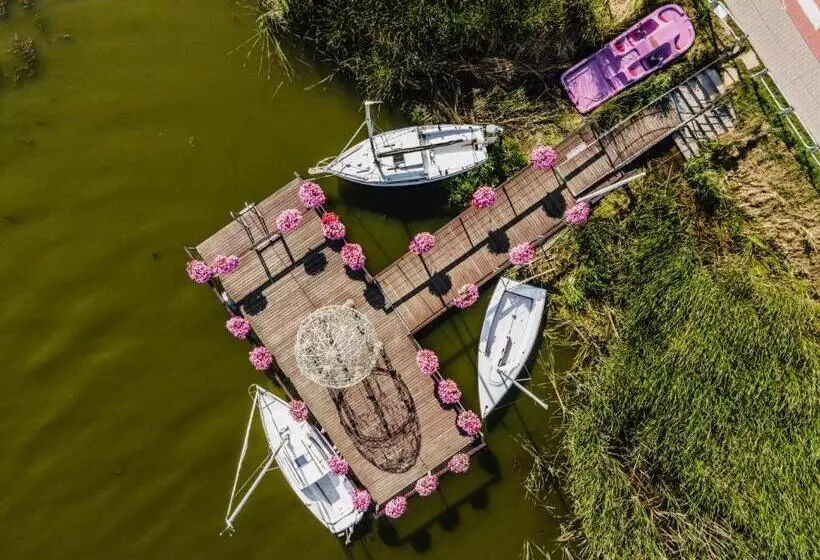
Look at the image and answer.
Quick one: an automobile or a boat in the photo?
boat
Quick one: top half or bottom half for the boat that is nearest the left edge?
bottom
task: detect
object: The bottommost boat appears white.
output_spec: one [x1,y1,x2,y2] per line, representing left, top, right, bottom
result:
[214,385,384,539]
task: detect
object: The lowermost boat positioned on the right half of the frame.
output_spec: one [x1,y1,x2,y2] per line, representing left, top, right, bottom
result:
[476,276,546,419]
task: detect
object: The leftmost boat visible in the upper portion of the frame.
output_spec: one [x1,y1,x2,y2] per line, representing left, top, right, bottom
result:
[298,99,502,187]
